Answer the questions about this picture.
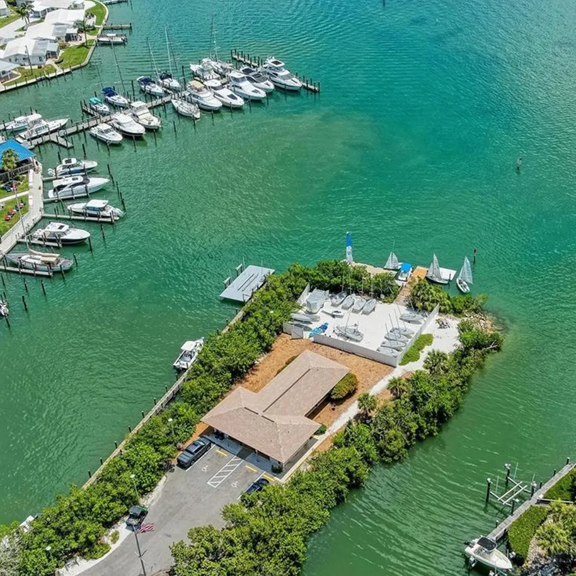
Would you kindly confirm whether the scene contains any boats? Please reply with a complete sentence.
Yes, the image includes a boat.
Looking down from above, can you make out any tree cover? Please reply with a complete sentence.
Yes, tree cover shows up in the scene.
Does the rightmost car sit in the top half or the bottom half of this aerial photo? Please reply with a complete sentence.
It is in the bottom half that the rightmost car appears.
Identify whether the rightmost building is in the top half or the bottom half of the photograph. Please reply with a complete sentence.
The rightmost building sits in the bottom half of the picture.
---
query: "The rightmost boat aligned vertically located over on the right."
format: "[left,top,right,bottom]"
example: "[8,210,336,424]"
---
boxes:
[457,251,472,296]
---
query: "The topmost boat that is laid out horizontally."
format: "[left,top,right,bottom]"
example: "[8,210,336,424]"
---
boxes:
[97,31,131,44]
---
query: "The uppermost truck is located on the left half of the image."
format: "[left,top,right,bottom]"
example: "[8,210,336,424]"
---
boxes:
[171,435,215,467]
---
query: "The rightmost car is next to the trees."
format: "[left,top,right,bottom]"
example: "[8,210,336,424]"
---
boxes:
[238,471,279,503]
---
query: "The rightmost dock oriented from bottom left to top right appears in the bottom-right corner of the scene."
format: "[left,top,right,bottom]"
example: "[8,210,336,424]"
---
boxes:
[480,452,576,544]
